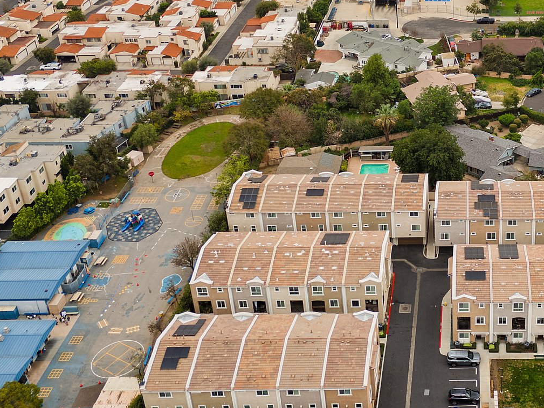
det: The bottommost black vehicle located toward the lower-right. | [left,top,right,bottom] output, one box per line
[447,386,481,404]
